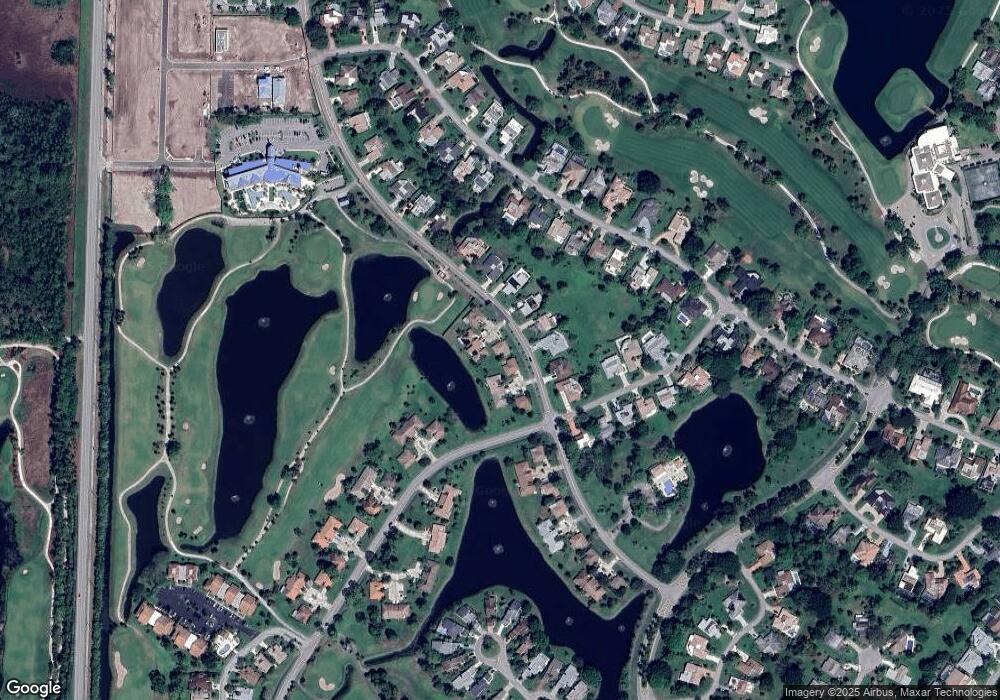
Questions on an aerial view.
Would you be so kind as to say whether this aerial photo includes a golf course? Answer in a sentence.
Yes, a golf course is visible in the scene.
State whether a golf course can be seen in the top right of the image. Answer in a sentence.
Yes, the scene does show a golf course in the top right of the image.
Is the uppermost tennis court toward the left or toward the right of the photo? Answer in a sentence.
You can find the uppermost tennis court on the right side of the picture.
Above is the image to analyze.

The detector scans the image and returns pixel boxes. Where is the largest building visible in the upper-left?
[224,142,312,190]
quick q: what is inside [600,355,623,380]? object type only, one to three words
house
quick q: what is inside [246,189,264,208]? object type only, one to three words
swimming pool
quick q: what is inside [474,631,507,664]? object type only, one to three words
roundabout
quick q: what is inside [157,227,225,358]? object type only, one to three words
pond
